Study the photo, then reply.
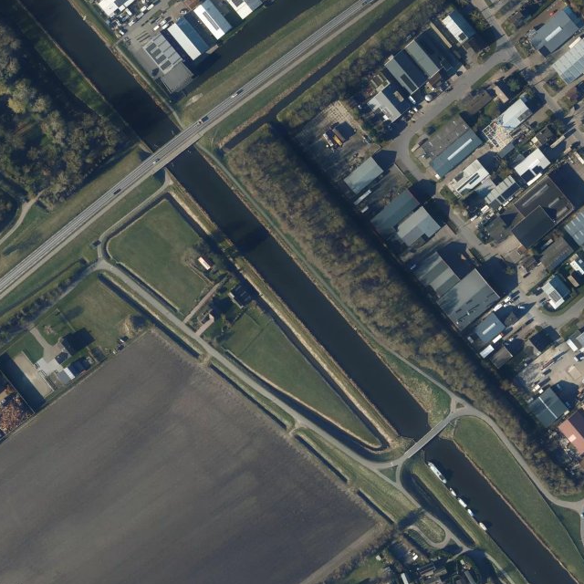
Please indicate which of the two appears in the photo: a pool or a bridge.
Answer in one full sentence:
I can see a bridge in this picture.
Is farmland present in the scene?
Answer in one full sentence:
Yes, the picture does contain farmland.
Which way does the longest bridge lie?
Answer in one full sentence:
The longest bridge is laid out at an angle.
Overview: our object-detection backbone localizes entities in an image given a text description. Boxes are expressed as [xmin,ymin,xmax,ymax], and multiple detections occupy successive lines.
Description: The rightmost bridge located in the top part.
[140,123,203,179]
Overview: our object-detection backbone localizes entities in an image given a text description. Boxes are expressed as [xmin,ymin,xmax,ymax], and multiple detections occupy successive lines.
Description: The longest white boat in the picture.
[428,462,446,482]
